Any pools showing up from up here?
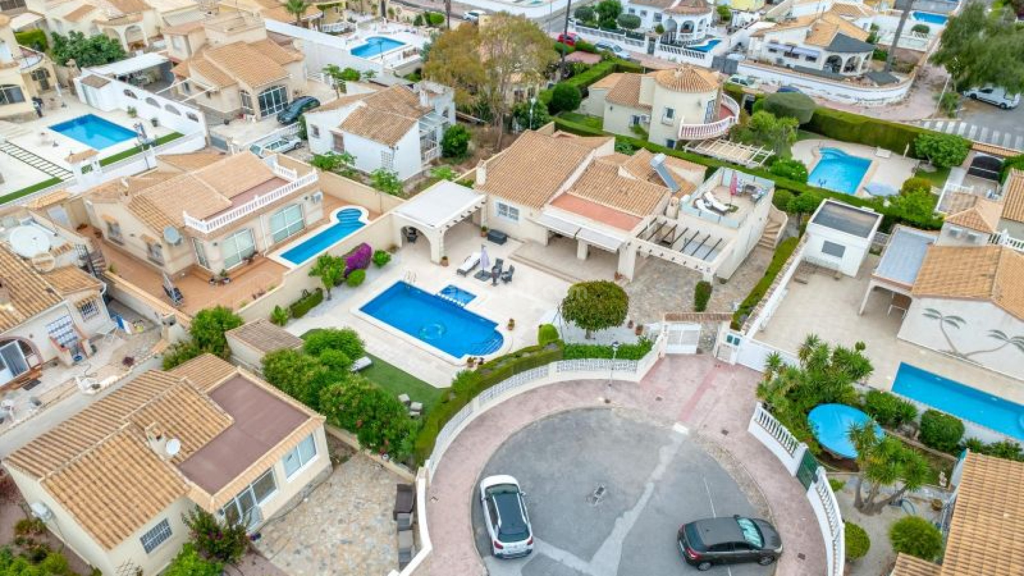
Yes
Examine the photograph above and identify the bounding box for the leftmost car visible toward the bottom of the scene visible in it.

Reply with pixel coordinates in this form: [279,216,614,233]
[479,476,535,565]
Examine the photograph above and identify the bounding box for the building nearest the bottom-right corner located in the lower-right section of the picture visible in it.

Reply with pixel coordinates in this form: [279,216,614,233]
[891,450,1024,576]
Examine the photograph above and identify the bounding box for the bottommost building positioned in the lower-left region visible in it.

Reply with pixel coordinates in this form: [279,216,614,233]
[5,352,332,576]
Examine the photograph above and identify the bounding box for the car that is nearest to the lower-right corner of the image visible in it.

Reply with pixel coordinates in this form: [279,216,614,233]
[676,516,786,573]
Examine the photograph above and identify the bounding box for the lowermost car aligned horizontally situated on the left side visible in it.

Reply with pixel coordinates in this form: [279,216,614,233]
[249,130,302,159]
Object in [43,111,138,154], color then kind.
blue swimming pool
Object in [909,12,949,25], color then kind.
blue swimming pool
